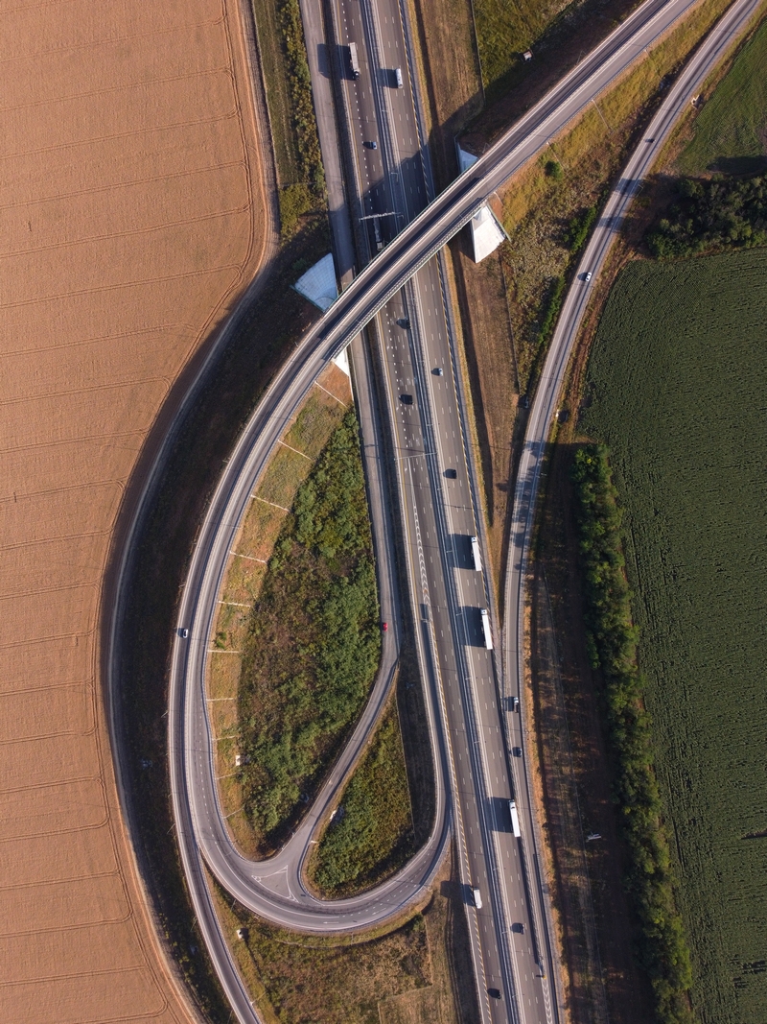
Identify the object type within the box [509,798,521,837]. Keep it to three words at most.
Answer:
vehicle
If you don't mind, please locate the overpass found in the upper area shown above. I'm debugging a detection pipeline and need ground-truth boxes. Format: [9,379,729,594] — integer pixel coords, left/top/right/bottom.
[293,134,523,411]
